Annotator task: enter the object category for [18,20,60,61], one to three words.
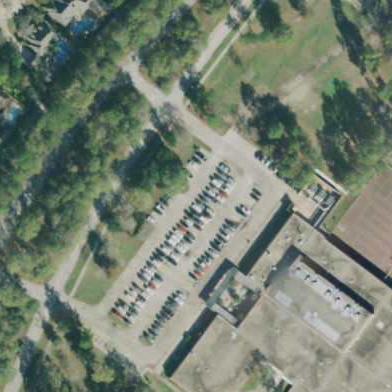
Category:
house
